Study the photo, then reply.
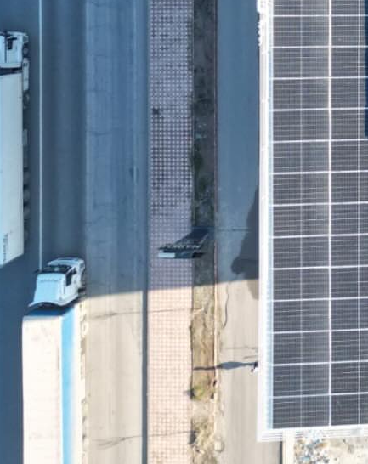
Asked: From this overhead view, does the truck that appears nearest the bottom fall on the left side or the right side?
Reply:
left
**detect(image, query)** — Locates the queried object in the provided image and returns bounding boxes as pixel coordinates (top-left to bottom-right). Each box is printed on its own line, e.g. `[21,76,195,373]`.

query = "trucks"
[0,31,30,265]
[24,258,86,464]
